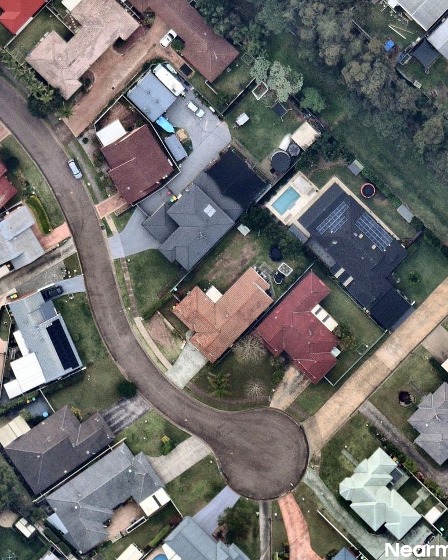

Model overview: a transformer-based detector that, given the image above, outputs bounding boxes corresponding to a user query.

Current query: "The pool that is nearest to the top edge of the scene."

[271,186,302,217]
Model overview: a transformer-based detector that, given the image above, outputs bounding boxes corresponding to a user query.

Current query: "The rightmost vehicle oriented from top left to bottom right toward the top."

[187,100,204,117]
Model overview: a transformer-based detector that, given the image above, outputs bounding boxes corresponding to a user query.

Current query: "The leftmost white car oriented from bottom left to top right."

[159,29,176,49]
